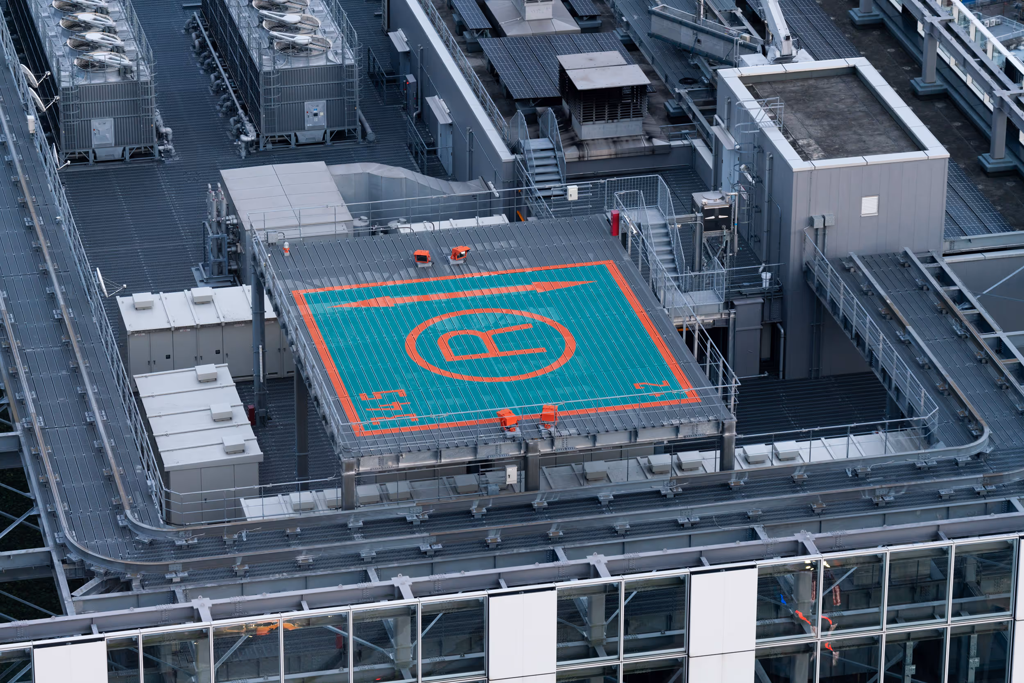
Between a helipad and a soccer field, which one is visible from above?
helipad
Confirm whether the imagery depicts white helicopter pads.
No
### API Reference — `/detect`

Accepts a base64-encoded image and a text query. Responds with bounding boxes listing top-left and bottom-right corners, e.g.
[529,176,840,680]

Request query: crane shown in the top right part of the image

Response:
[737,0,809,68]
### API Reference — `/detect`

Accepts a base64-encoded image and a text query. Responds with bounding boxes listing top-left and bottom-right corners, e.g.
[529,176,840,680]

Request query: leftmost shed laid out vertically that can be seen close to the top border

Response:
[390,27,418,108]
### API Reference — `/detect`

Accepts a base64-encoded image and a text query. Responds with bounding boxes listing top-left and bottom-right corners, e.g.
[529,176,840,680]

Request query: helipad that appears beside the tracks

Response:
[252,212,737,617]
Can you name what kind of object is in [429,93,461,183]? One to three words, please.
shed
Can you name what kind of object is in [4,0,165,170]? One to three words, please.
cooling tower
